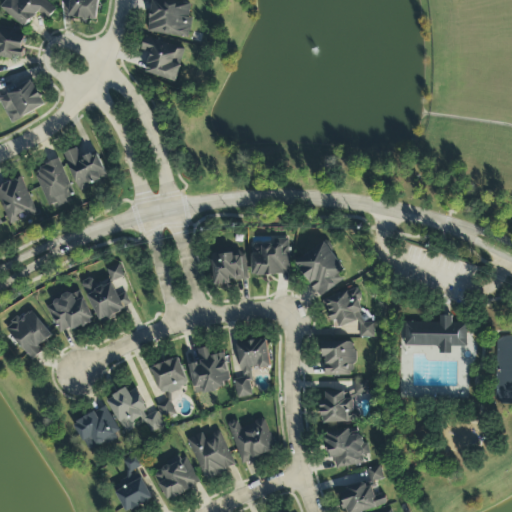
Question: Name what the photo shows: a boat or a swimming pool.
swimming pool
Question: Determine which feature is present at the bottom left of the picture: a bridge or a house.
house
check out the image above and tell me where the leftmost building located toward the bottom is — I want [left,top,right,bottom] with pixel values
[8,308,54,356]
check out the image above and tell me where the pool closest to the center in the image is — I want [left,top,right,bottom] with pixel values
[256,374,268,389]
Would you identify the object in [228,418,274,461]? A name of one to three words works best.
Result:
house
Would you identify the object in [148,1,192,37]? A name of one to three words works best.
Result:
house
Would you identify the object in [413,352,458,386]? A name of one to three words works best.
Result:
swimming pool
